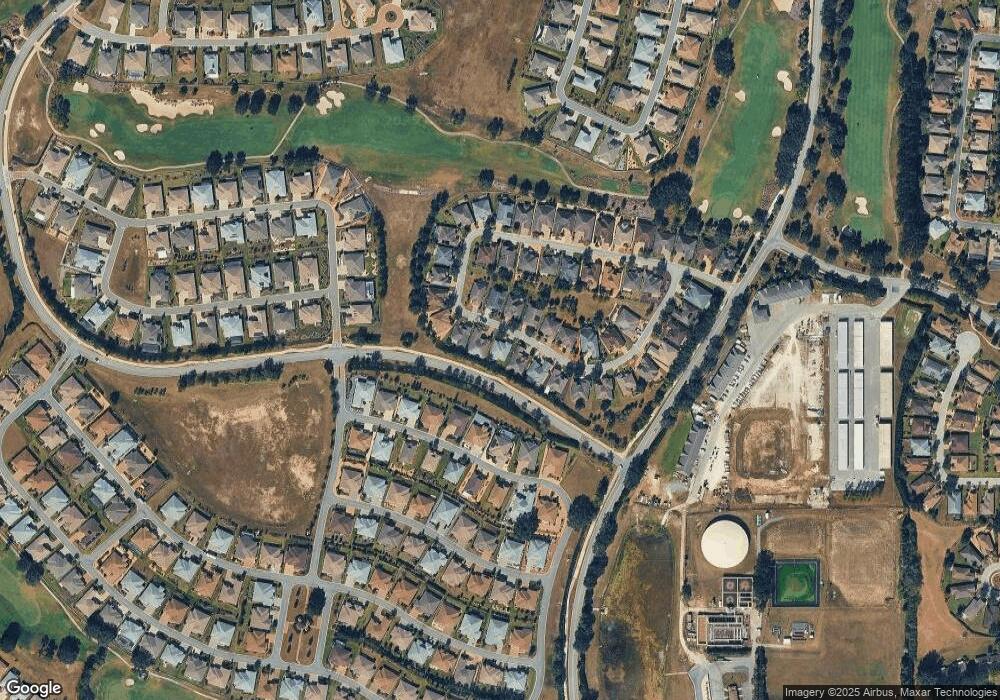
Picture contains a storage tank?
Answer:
Yes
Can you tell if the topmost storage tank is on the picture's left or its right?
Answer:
right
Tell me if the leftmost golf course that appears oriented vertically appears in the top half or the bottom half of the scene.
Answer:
top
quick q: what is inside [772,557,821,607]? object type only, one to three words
pond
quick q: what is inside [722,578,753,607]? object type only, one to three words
storage tank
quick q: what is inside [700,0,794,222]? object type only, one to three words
golf course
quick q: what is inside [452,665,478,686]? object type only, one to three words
house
